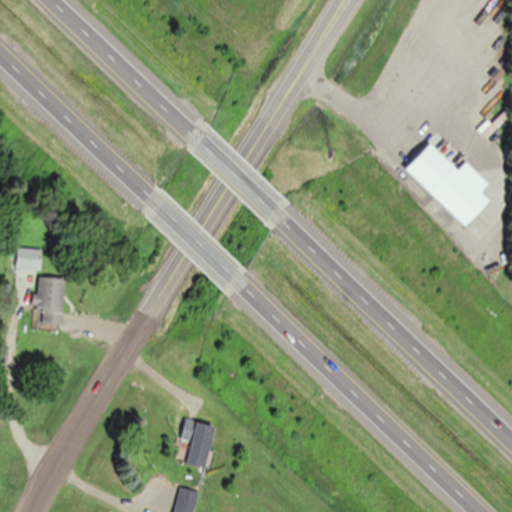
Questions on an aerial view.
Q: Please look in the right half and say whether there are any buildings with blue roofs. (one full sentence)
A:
No, no building with a blue roof is visible in the right half.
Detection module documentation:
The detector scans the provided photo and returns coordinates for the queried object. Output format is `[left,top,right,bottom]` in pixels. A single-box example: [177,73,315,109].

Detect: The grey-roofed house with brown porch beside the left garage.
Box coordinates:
[32,277,65,331]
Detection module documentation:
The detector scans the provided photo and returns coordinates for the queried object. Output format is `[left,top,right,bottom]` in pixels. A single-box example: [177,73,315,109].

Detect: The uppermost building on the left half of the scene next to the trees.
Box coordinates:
[16,248,42,272]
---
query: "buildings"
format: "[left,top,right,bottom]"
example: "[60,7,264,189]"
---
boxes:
[175,487,198,512]
[16,248,42,272]
[32,277,65,331]
[174,419,215,468]
[405,144,492,228]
